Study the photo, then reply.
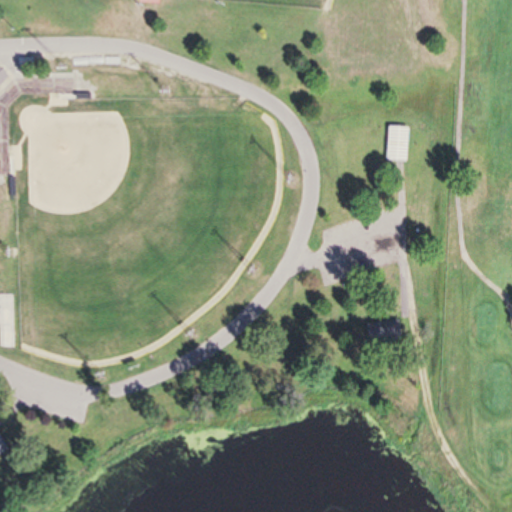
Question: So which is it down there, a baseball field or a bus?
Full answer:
It is a baseball field that can be seen here.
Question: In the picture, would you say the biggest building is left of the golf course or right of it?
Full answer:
You can see the biggest building positioned to the left of the golf course.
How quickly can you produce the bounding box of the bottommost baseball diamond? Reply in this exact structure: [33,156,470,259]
[10,94,284,369]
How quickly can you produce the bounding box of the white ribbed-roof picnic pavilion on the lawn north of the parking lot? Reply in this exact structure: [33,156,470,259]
[386,124,410,162]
